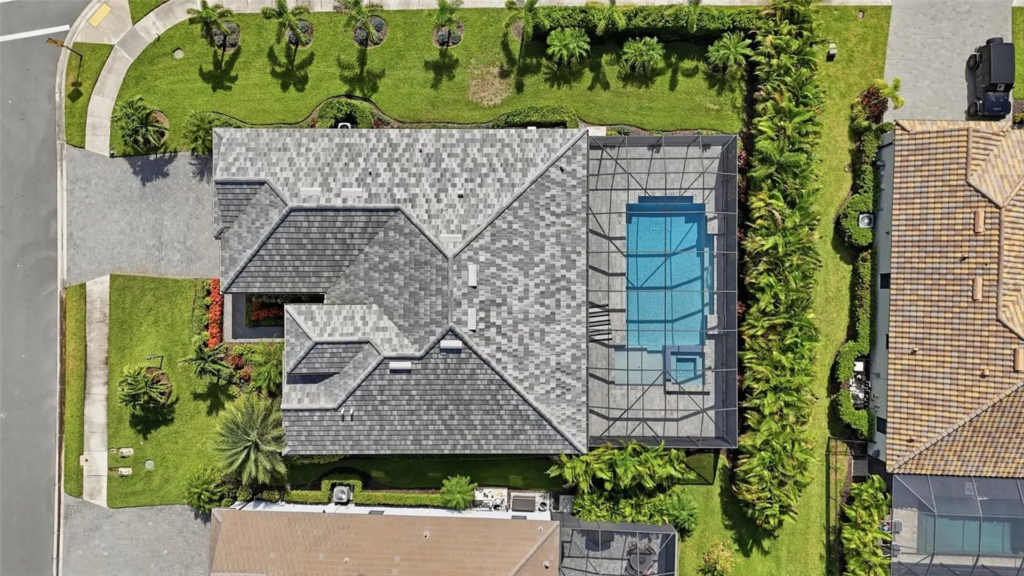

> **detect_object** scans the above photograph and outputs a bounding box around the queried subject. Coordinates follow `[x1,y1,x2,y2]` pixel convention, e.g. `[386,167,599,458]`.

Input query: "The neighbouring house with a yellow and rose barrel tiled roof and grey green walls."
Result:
[868,120,1024,478]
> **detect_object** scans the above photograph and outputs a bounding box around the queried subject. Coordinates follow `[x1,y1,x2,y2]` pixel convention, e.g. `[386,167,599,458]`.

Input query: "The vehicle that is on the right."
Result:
[968,45,1014,121]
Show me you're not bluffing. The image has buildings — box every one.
[209,500,561,576]
[211,126,589,456]
[868,120,1024,478]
